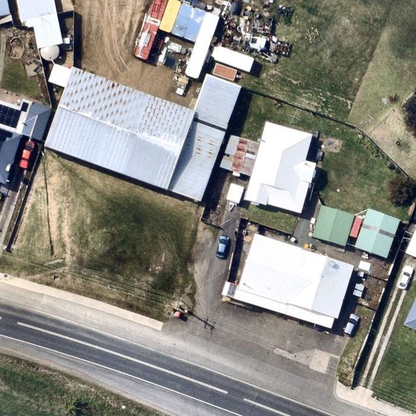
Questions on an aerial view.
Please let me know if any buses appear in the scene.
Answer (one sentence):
Yes, looking at the shot, I can spot a bus.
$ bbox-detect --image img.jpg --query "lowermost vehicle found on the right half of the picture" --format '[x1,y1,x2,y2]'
[343,313,360,337]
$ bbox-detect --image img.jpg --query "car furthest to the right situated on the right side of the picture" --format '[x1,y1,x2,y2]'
[398,265,414,291]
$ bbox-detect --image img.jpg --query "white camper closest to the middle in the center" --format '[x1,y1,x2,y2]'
[227,183,244,207]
